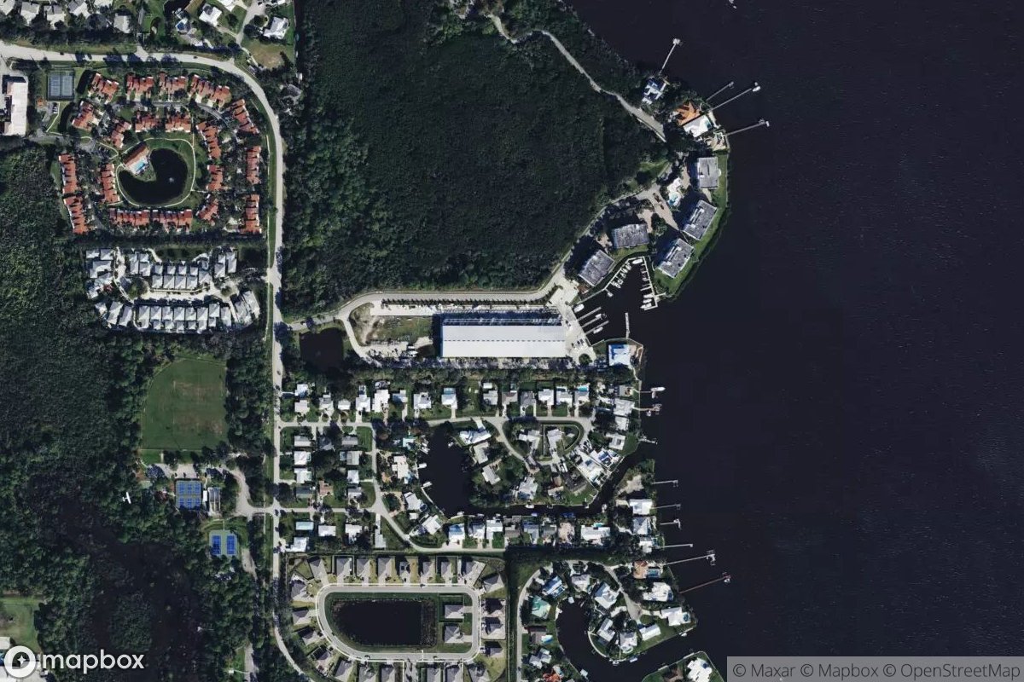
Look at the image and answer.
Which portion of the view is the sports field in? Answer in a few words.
left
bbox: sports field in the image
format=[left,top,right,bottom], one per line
[142,359,228,450]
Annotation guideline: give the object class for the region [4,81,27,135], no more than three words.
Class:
building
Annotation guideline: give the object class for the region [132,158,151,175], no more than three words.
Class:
swimming pool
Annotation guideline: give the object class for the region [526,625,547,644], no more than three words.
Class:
house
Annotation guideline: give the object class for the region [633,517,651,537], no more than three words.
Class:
house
